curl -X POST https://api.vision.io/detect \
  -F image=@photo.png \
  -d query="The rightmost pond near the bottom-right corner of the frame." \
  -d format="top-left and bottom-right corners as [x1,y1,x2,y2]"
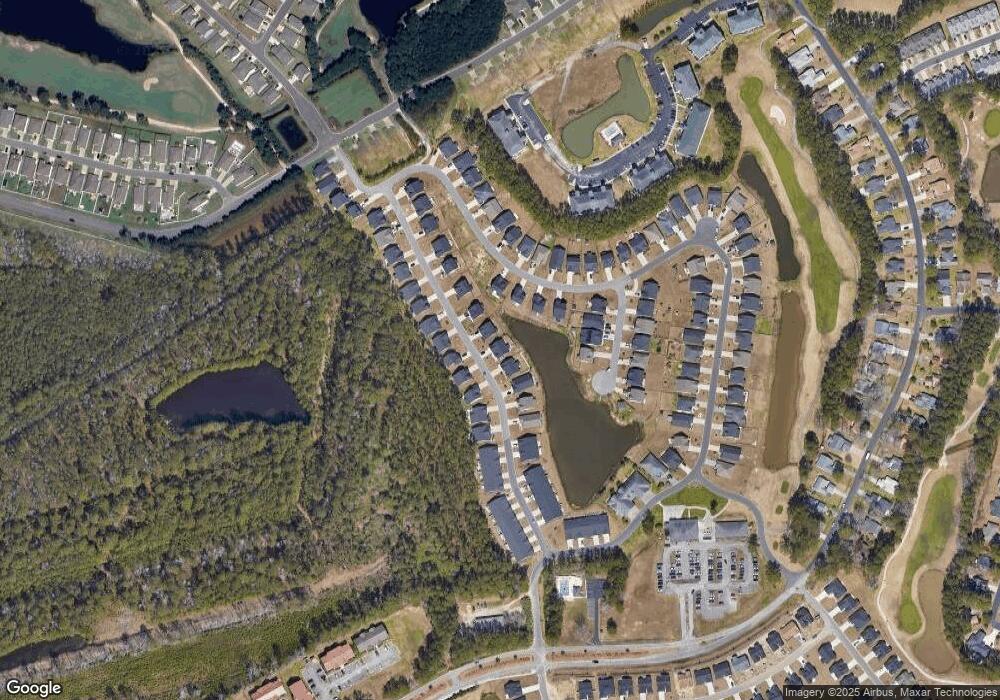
[911,569,956,674]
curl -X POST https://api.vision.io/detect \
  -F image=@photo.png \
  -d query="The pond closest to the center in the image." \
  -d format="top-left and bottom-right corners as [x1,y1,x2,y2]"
[502,315,644,509]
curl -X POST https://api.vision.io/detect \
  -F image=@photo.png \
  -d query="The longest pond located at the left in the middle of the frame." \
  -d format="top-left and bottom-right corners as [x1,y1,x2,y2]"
[157,361,312,431]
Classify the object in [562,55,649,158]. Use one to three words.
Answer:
pond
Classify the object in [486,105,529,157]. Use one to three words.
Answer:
building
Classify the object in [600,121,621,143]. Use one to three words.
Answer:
swimming pool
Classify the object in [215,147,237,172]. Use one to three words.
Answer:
house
